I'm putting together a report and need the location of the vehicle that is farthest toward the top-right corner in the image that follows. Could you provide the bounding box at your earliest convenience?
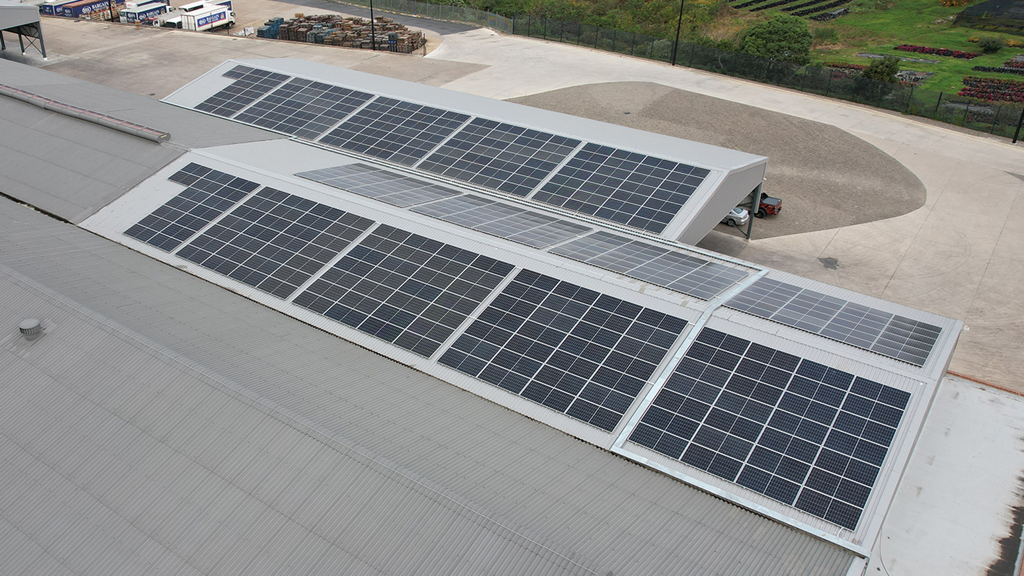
[756,186,785,215]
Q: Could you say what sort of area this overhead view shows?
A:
industrial area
